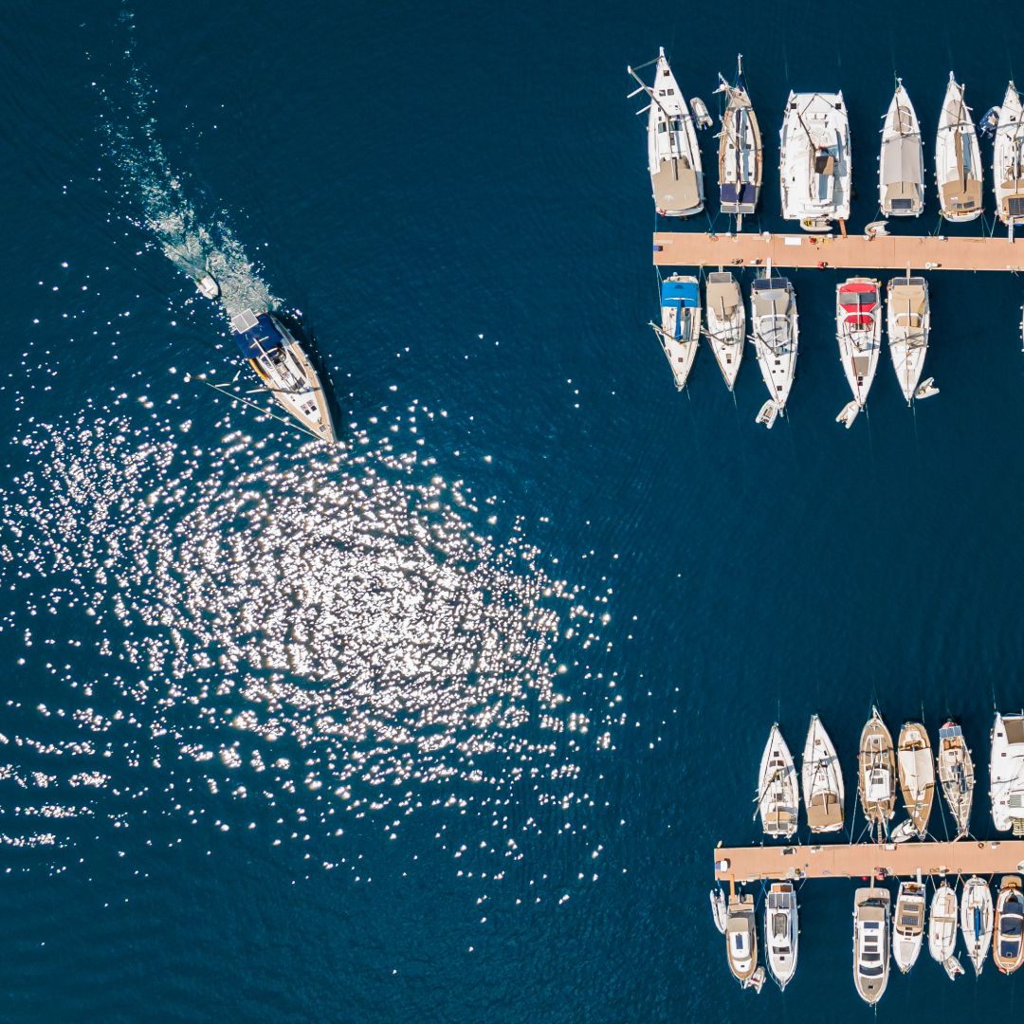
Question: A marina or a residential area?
marina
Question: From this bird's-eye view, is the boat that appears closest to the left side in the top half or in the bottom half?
top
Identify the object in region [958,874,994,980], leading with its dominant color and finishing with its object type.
white boat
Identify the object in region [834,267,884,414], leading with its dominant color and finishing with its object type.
white boat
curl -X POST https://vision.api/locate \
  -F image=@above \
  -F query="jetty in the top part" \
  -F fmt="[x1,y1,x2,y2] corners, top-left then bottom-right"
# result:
[652,233,1024,272]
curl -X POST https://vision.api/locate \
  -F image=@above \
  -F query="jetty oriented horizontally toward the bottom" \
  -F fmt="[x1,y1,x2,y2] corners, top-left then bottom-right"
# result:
[713,840,1024,880]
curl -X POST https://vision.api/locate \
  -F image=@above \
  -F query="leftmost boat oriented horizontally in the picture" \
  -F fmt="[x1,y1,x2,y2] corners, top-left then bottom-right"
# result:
[800,219,834,232]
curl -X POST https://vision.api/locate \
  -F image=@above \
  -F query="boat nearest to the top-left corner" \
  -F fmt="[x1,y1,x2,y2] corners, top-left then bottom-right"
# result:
[195,274,217,298]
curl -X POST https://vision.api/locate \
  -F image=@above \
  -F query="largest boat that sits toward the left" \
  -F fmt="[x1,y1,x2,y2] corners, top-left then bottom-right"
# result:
[195,305,339,448]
